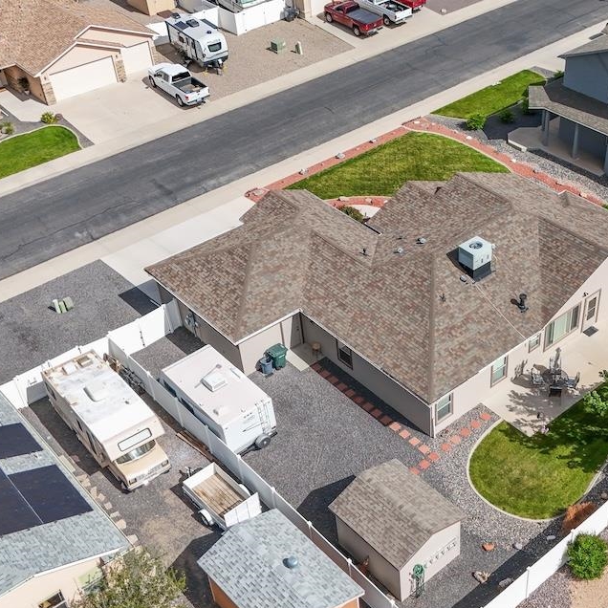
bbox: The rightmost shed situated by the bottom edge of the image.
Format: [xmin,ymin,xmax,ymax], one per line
[330,461,463,601]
